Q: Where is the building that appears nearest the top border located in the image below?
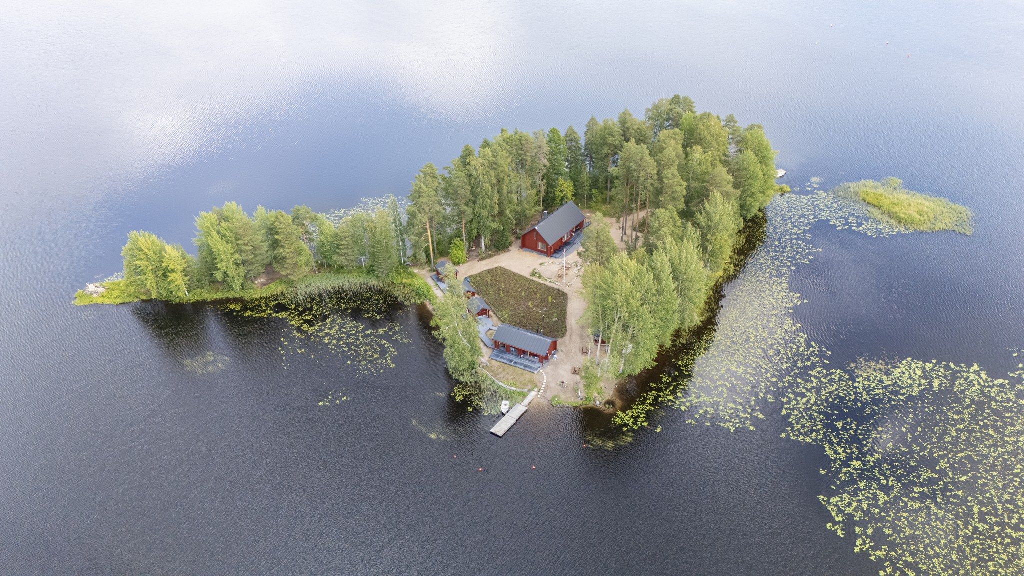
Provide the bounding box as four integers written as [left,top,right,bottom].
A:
[519,200,593,259]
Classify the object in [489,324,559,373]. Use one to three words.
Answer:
house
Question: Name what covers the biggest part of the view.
water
